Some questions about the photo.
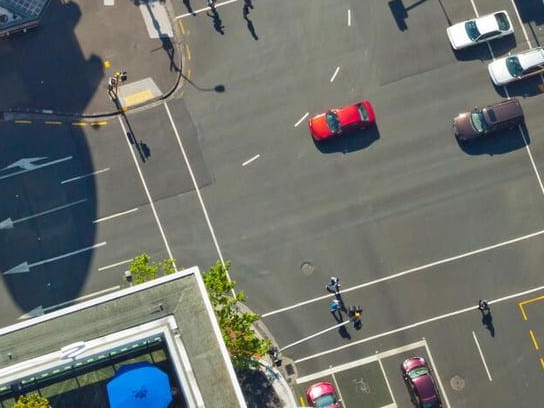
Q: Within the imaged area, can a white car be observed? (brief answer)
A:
Yes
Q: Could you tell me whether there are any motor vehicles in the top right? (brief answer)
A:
Yes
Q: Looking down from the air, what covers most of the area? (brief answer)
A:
paved ground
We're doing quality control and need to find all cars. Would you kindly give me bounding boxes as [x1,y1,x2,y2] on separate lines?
[446,9,515,52]
[452,95,527,142]
[309,381,343,408]
[307,97,379,142]
[487,44,544,88]
[401,354,445,408]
